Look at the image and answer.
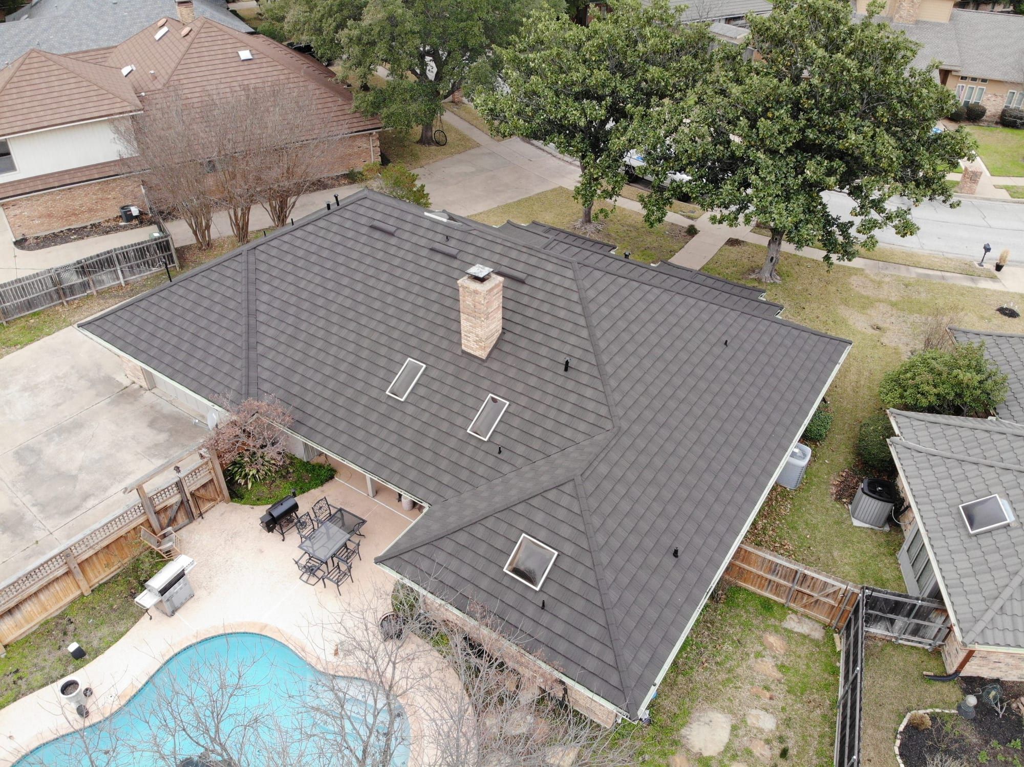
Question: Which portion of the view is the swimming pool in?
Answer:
bottom left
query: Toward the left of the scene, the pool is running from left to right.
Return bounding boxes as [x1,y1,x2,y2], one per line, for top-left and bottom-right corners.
[20,631,409,767]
